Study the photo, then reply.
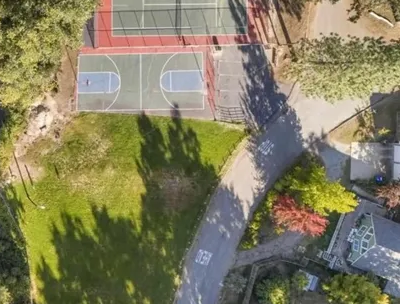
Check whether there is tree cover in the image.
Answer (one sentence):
Yes, there's tree cover in this view.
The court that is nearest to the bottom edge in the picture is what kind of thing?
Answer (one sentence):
Specifically, the court that is nearest to the bottom edge is a basketball court.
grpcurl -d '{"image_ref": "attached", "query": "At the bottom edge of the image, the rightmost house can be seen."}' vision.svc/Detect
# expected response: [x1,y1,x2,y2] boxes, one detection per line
[345,211,400,302]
